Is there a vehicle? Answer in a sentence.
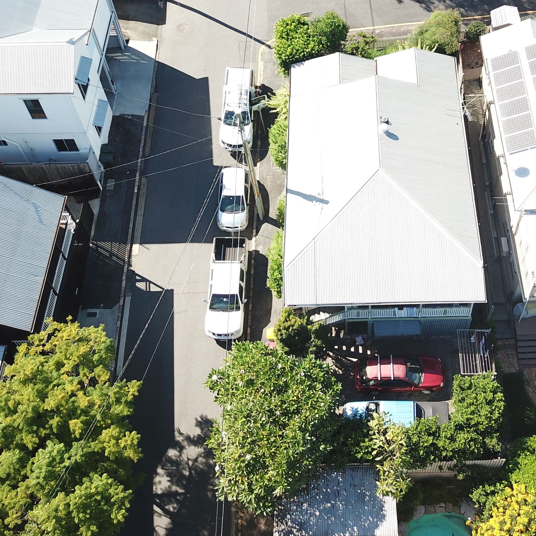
Yes, there's a vehicle down there.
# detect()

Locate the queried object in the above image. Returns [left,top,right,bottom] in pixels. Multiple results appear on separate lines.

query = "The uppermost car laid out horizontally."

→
[354,351,444,395]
